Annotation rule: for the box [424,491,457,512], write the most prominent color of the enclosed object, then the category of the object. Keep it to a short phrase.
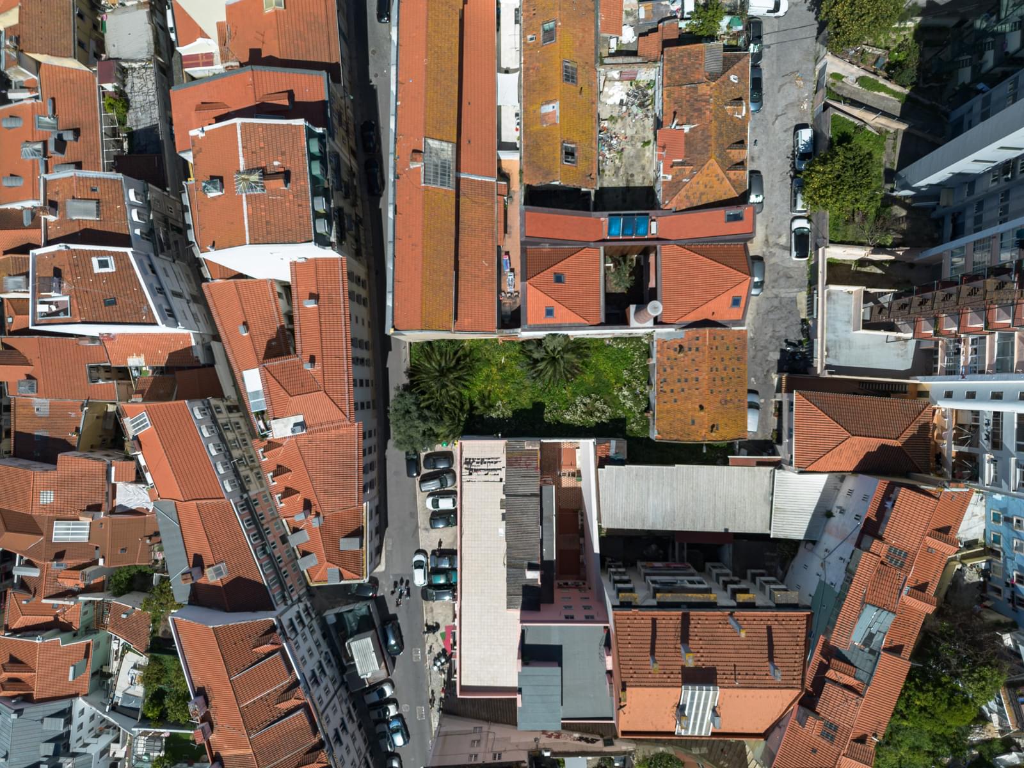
white car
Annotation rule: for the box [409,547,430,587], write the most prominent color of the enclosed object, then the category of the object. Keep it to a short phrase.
white car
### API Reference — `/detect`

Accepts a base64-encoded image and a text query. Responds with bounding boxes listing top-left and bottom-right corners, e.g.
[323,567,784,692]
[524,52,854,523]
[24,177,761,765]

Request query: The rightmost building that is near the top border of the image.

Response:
[886,0,1024,194]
